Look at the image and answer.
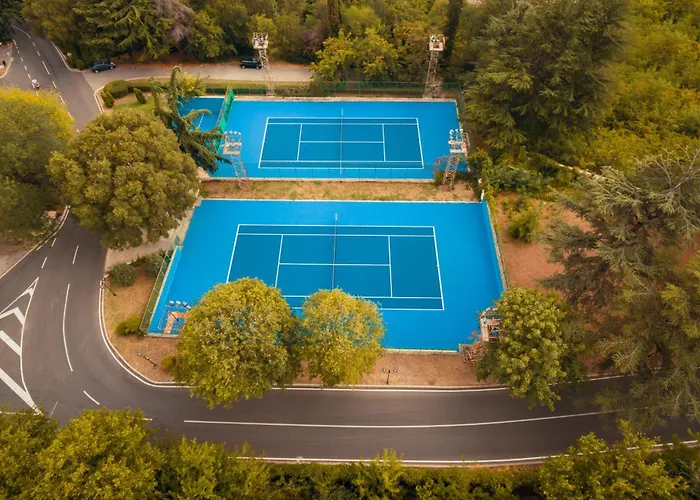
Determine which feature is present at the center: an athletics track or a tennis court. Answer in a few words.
tennis court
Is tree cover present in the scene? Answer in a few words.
Yes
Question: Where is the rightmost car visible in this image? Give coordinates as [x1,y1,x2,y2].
[238,54,263,67]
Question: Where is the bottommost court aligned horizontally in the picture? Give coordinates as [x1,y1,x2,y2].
[152,199,500,351]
